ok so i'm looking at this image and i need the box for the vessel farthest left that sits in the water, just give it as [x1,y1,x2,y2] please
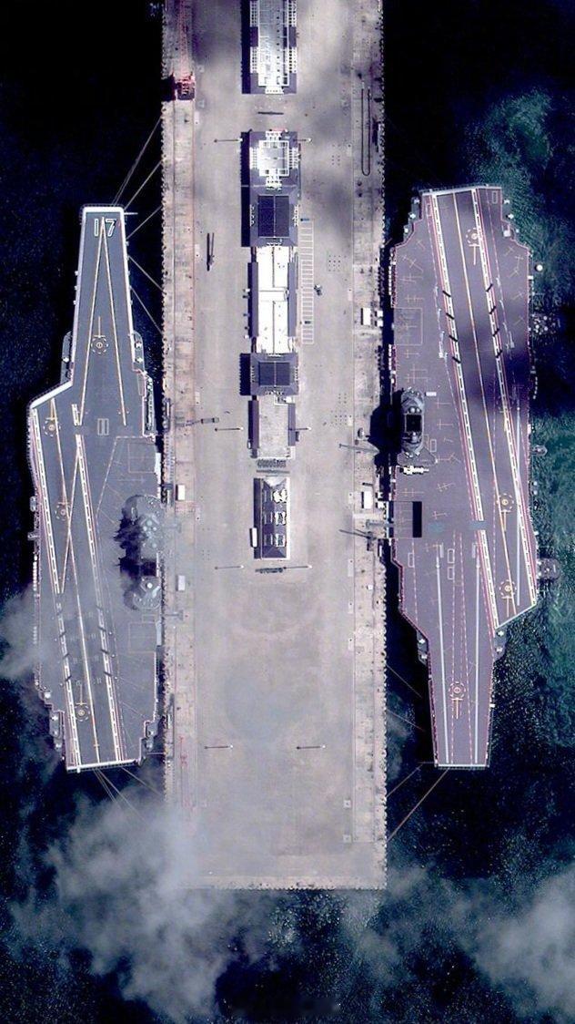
[28,203,164,773]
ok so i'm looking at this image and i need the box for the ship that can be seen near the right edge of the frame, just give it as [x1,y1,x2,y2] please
[389,183,559,769]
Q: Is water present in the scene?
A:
Yes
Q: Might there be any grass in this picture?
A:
No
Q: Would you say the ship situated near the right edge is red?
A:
No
